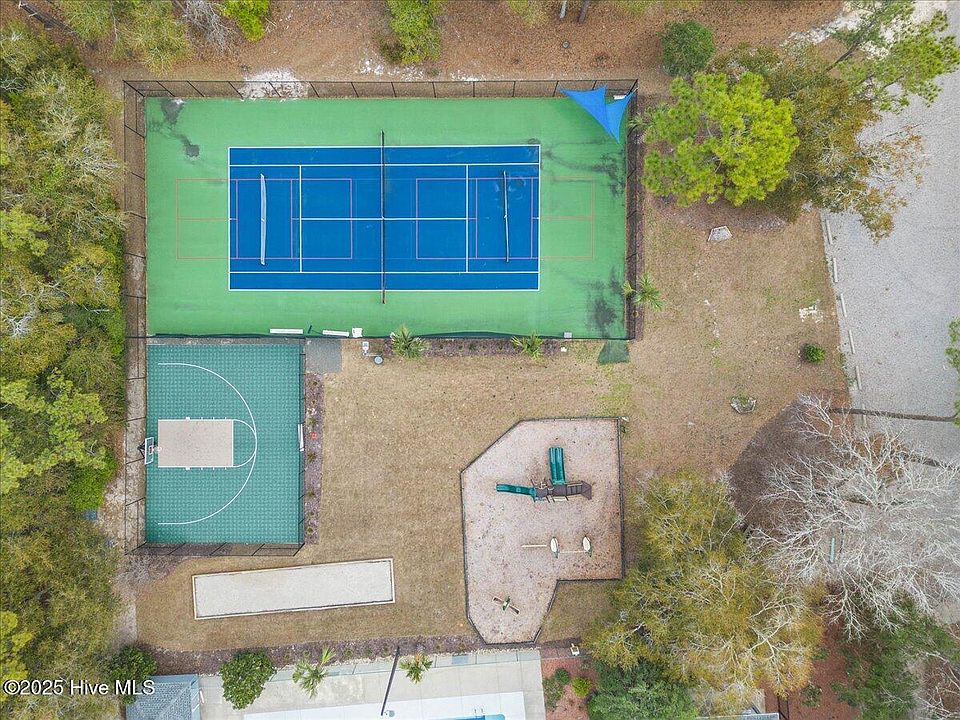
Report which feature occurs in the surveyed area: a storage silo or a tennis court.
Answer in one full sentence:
There is a tennis court in the scene.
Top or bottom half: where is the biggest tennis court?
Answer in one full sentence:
You can find the biggest tennis court in the top half.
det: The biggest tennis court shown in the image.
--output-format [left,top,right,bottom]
[146,96,631,336]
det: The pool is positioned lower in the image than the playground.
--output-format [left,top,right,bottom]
[200,651,547,720]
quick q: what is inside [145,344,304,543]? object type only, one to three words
basketball court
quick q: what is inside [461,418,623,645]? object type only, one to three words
playground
